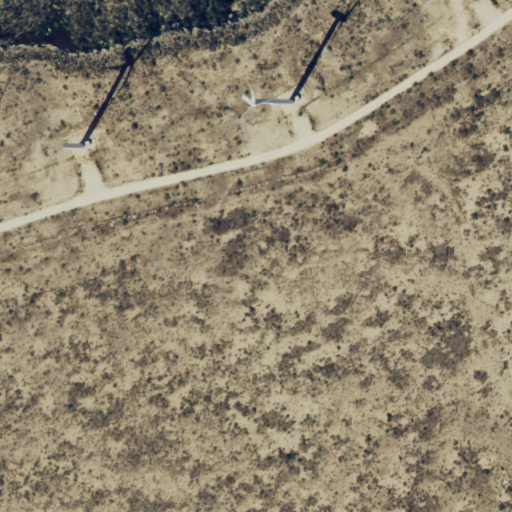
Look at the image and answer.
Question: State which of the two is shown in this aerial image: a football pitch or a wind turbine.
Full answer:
The one in the frame is a wind turbine.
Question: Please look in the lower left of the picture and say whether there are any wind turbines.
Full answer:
No, I can find no wind turbine in the lower left of the picture.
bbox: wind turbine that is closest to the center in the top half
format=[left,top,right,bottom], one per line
[222,76,296,130]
